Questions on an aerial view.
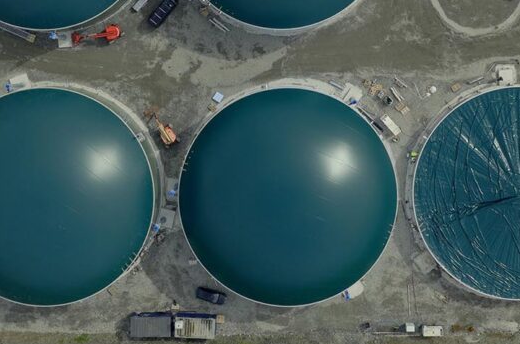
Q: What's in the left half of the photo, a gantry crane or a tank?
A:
tank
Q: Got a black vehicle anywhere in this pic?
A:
Yes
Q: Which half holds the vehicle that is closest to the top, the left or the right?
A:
left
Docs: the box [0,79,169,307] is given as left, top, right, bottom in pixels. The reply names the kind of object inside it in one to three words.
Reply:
storage tank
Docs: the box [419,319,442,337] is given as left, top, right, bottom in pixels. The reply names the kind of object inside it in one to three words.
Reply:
building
